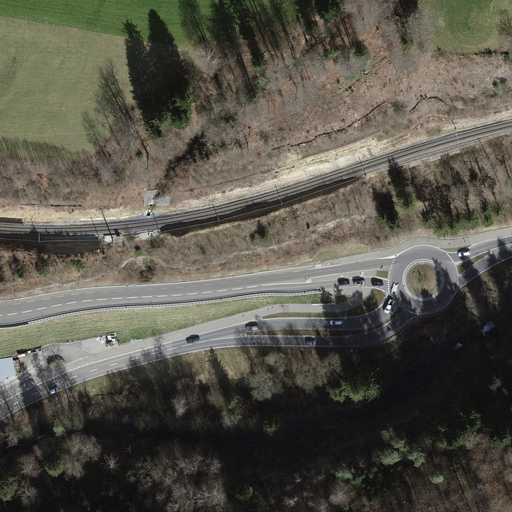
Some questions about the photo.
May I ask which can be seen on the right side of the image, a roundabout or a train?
roundabout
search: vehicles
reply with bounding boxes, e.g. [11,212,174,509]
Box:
[338,280,350,286]
[246,324,258,330]
[305,338,316,344]
[352,280,365,286]
[458,250,470,256]
[107,332,114,347]
[392,282,398,294]
[186,336,200,342]
[372,281,384,287]
[330,320,343,325]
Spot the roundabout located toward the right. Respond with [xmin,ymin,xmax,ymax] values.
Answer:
[388,246,458,315]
